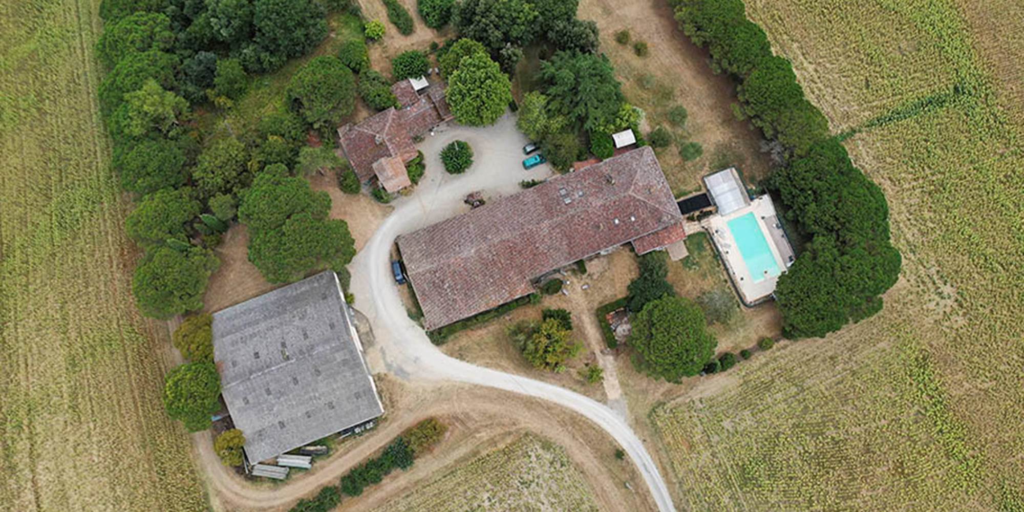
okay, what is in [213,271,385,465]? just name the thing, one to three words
barn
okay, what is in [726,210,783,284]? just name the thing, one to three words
swimming pool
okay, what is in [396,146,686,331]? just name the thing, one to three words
house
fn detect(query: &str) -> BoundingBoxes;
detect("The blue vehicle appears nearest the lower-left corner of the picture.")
[391,259,406,284]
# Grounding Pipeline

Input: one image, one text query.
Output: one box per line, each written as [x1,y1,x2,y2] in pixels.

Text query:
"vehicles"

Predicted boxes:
[523,154,547,169]
[391,259,406,284]
[523,141,545,155]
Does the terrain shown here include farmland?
Yes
